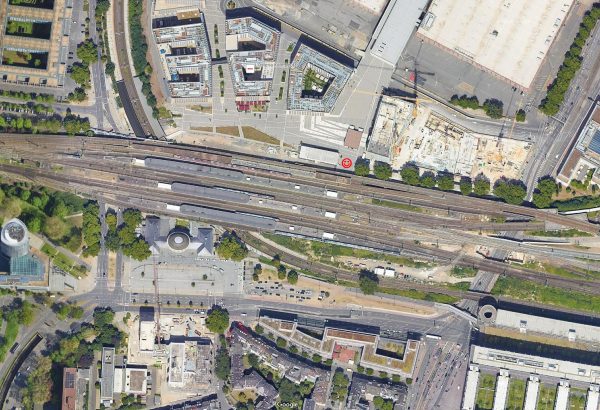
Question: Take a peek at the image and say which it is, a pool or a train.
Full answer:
There is a train in the scene.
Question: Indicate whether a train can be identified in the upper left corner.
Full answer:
No, no train is visible in the upper left corner.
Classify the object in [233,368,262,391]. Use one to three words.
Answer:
house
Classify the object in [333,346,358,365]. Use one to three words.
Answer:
building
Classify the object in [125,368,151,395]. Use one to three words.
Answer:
house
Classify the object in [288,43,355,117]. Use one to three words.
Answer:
building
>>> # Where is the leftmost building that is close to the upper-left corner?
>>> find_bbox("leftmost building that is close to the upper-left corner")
[0,0,73,92]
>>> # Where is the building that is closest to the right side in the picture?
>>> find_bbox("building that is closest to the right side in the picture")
[558,102,600,184]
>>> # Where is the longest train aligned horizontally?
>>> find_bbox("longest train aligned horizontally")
[274,230,401,258]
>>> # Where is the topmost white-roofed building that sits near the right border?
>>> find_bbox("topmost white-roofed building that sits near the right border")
[416,0,577,94]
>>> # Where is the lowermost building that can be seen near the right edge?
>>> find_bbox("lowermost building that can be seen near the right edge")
[472,346,600,385]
